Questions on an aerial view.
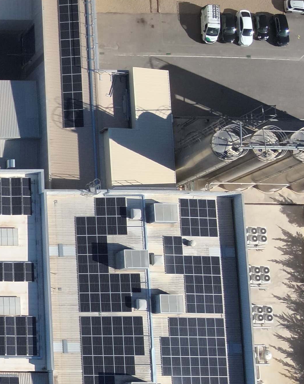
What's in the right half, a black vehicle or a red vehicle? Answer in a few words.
black vehicle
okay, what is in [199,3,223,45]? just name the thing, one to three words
vehicle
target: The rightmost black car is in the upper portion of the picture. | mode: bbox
[270,13,293,48]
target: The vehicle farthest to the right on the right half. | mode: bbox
[285,0,304,15]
